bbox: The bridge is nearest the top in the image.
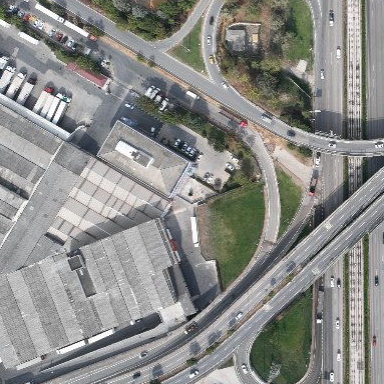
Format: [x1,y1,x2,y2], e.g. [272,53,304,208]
[289,128,384,158]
